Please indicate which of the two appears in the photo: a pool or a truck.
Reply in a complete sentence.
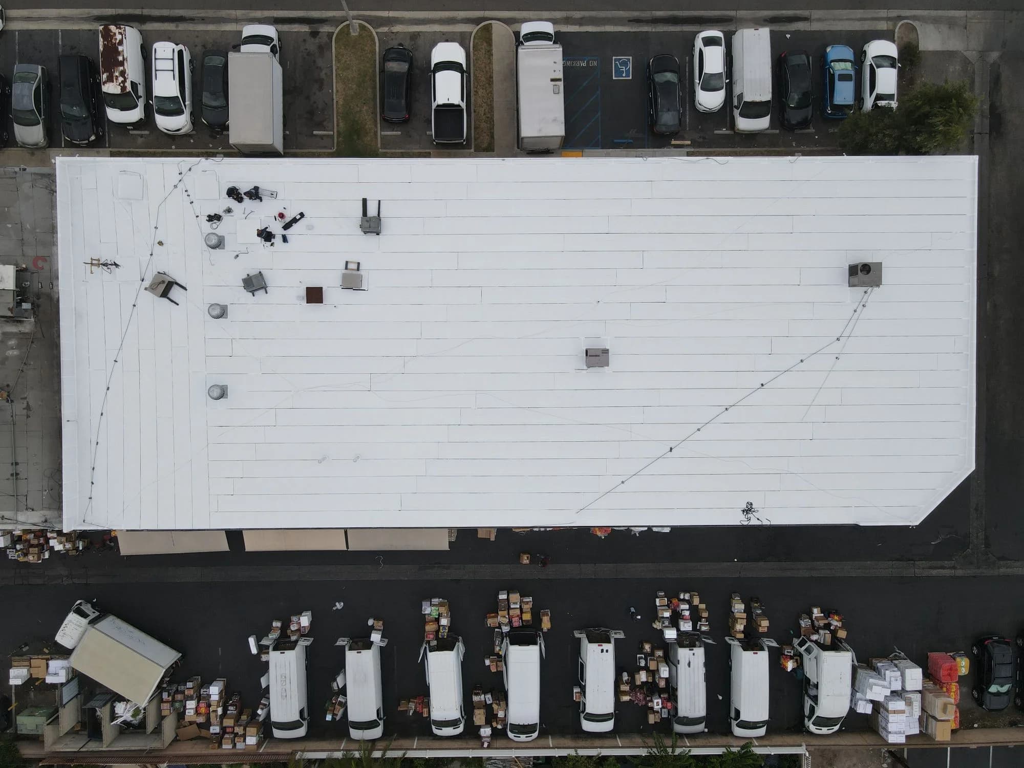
There is a truck in the scene.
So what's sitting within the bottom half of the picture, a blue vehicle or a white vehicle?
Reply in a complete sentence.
There is a white vehicle within the bottom half of the picture.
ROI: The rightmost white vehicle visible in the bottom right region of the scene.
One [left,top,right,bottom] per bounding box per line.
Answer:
[792,635,856,734]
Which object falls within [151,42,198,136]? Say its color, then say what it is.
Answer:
white car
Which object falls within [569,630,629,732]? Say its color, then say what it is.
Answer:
white van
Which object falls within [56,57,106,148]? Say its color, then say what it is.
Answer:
black car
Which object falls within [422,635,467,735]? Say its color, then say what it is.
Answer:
white van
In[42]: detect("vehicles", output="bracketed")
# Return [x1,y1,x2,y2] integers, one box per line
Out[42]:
[10,64,57,149]
[569,630,629,732]
[428,43,469,148]
[967,634,1015,714]
[792,635,856,734]
[774,51,816,131]
[513,24,565,157]
[332,637,396,740]
[719,637,786,738]
[228,29,287,157]
[49,597,189,710]
[856,39,899,115]
[818,45,862,120]
[0,67,18,153]
[658,634,723,734]
[56,57,106,148]
[729,27,775,137]
[196,50,228,129]
[691,30,730,114]
[500,631,544,742]
[100,24,151,131]
[422,635,467,735]
[151,42,198,136]
[253,631,319,741]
